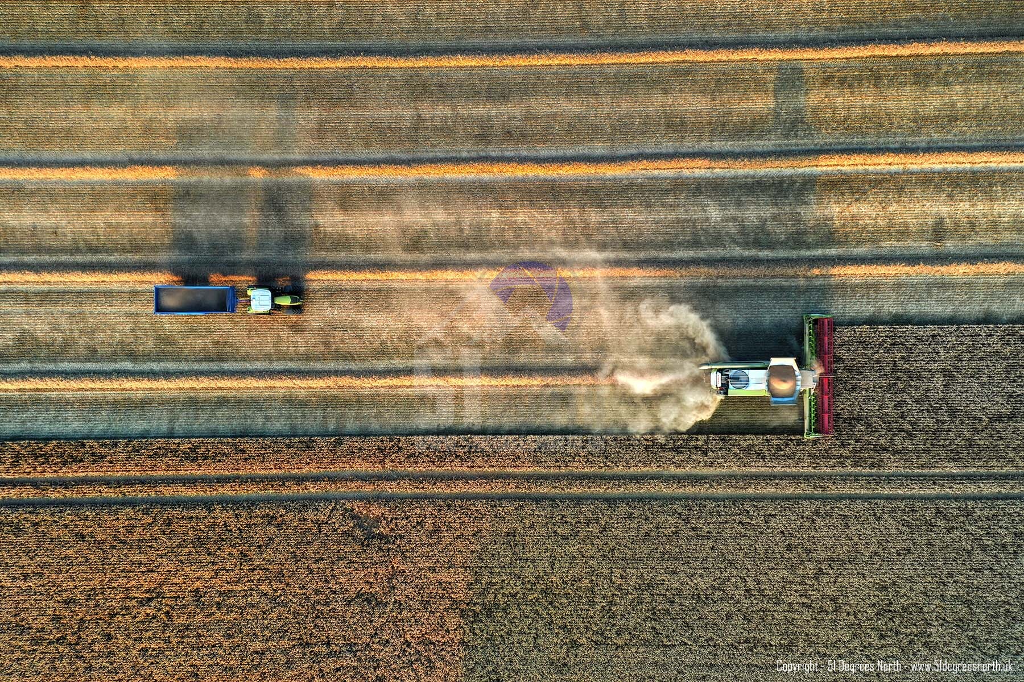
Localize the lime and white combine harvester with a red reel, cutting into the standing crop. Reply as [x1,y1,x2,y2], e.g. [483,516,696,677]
[690,314,834,438]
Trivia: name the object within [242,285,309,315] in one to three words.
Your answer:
work vehicle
